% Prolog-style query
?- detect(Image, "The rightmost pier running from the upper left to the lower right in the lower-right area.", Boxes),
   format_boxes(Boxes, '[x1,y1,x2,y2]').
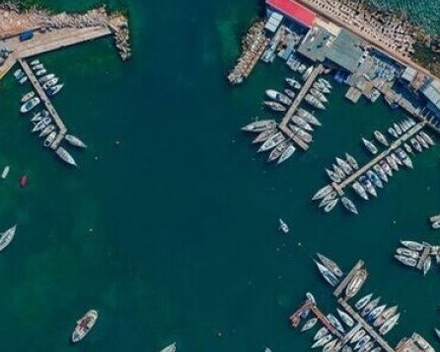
[338,296,393,352]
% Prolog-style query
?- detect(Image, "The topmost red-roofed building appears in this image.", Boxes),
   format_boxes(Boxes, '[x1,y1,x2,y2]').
[266,0,318,29]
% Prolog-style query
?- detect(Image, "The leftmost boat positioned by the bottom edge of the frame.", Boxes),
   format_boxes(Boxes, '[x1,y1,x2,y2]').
[73,307,100,343]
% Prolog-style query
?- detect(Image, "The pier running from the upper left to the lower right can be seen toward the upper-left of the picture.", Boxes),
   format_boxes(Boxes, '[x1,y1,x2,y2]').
[17,59,65,132]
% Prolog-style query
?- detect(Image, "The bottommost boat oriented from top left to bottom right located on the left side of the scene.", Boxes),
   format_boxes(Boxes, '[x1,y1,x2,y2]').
[55,148,76,166]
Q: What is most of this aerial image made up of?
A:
water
